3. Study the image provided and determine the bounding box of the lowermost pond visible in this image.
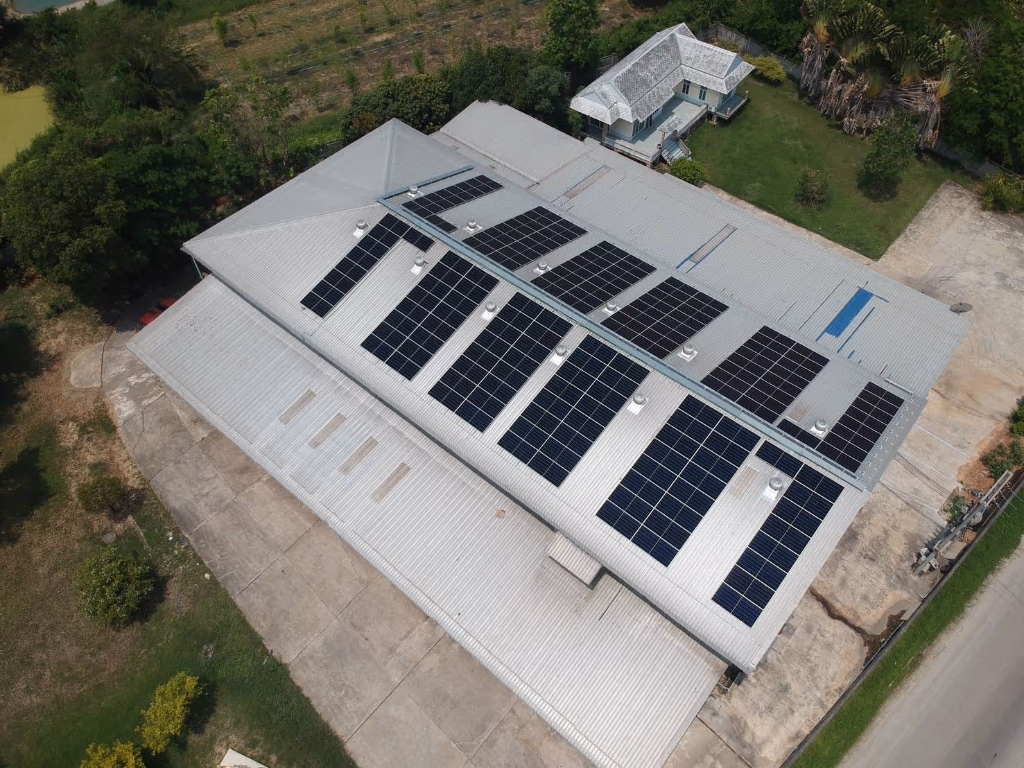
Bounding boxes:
[0,85,52,162]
